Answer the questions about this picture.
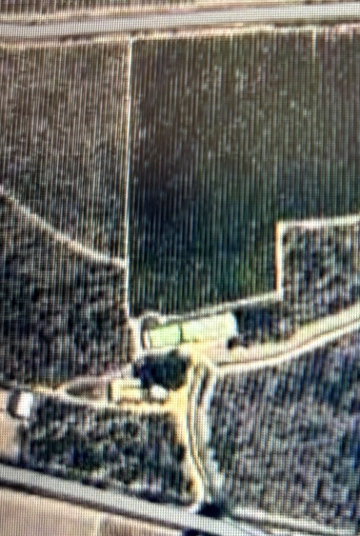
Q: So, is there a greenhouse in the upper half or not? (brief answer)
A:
No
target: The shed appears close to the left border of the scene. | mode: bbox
[11,391,31,418]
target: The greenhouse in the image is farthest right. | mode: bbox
[178,315,234,342]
